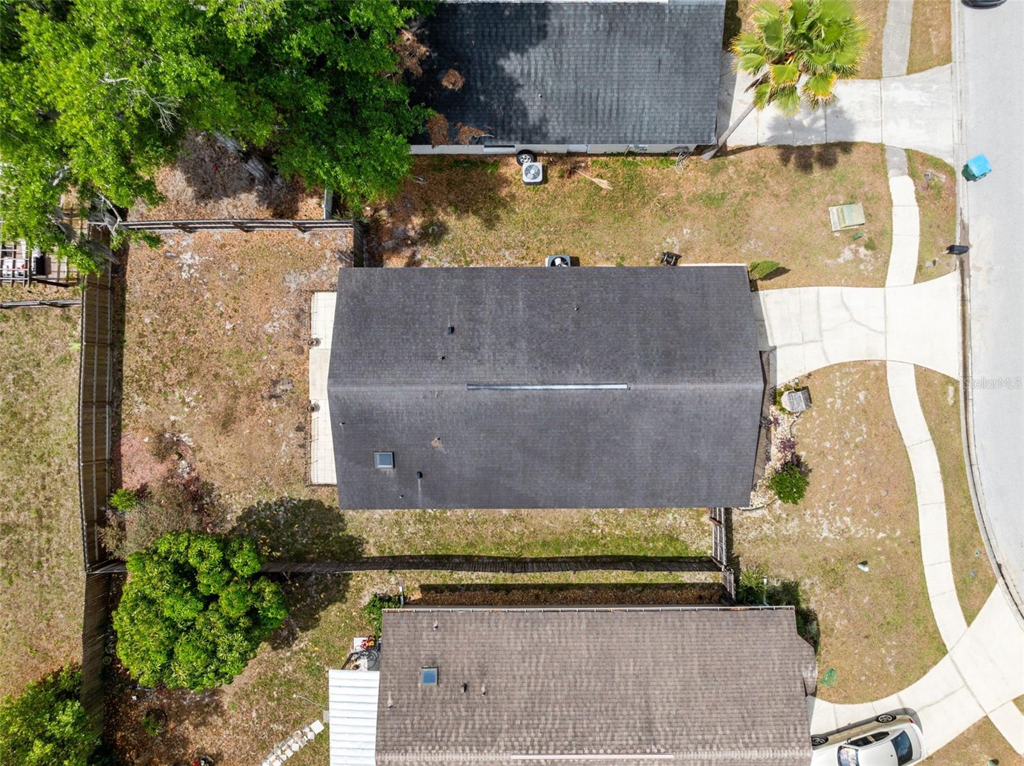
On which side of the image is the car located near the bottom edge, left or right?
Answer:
right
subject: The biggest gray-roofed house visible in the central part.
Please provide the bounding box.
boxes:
[327,266,764,510]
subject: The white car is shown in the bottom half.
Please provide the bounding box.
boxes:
[813,713,928,766]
